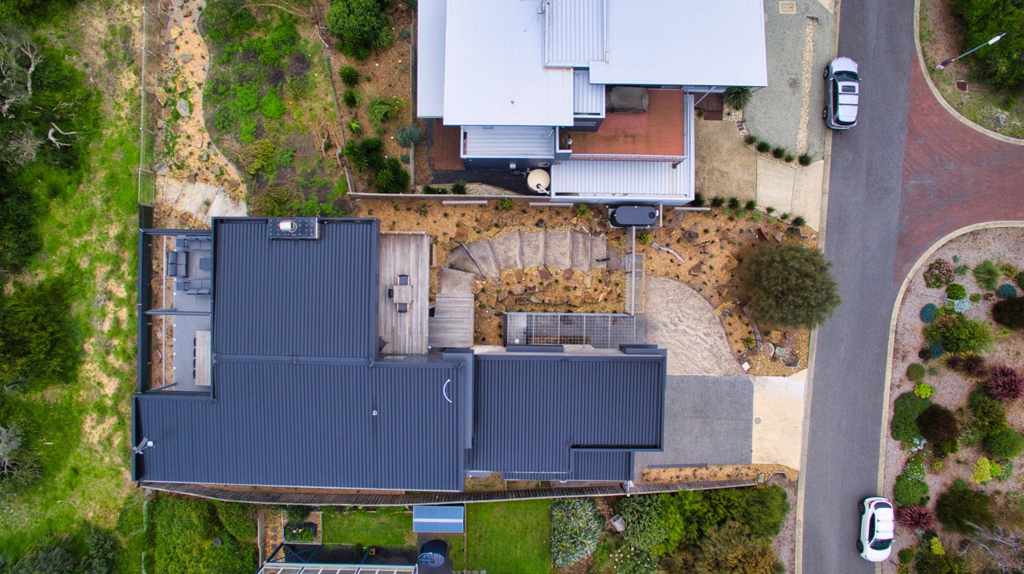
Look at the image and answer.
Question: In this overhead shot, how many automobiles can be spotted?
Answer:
2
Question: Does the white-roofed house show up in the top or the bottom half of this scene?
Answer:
top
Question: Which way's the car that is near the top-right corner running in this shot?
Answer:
up and down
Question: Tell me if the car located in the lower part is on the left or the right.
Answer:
right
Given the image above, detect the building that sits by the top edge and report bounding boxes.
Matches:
[417,0,767,205]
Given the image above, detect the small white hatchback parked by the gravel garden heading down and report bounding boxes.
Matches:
[858,498,897,562]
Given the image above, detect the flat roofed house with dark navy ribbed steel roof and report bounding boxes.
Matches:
[132,217,666,492]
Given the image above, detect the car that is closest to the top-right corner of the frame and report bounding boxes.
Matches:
[824,57,864,134]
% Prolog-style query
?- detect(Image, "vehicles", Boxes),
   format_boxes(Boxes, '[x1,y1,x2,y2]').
[858,498,897,562]
[824,57,864,134]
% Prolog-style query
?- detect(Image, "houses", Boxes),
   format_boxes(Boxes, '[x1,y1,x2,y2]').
[132,217,666,492]
[417,0,767,205]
